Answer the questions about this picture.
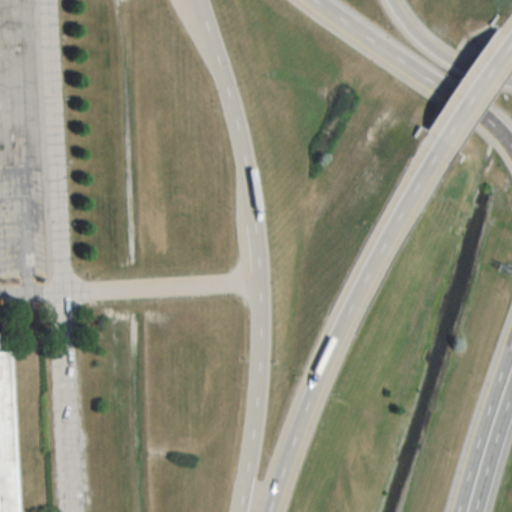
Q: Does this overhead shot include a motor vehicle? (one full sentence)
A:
Yes, a motor vehicle can be made out from above.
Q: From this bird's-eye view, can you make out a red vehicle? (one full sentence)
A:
No, I find no red vehicle anywhere in the image.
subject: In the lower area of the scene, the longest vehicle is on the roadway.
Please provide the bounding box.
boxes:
[310,336,338,392]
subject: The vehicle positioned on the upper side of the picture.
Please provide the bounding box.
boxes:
[252,168,268,224]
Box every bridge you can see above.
[416,22,512,160]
